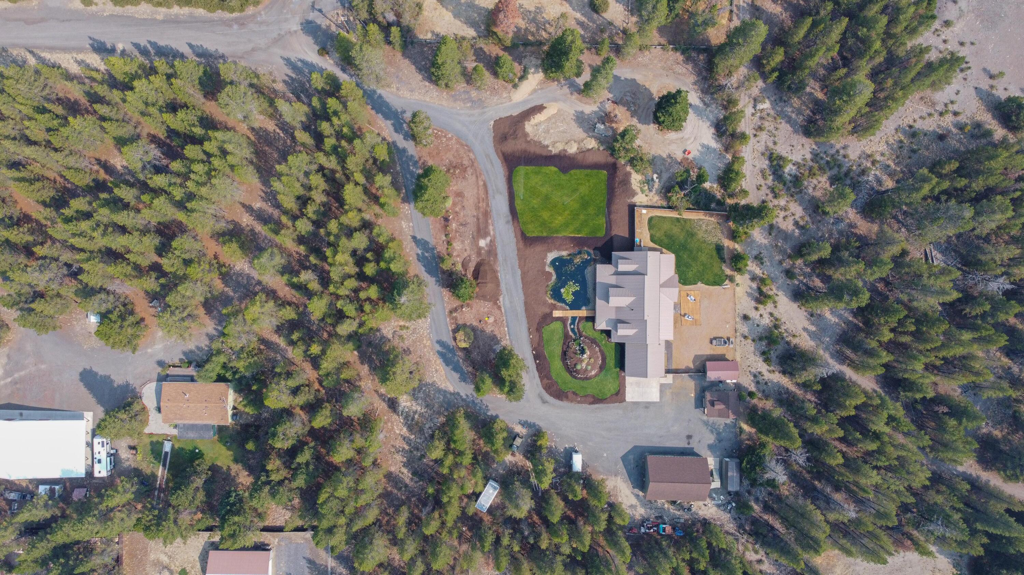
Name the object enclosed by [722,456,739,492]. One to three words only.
shed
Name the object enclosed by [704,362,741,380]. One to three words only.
shed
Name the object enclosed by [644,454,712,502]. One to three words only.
building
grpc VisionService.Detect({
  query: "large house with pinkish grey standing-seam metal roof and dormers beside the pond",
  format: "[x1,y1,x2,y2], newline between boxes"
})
[596,247,678,378]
